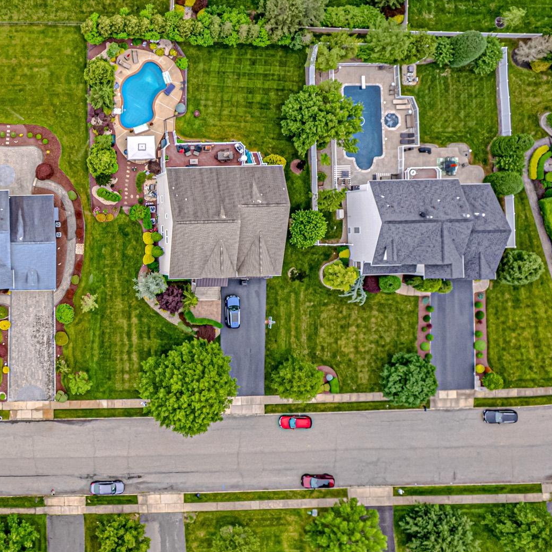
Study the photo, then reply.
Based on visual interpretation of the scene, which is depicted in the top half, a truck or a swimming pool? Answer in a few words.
swimming pool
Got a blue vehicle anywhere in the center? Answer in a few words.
Yes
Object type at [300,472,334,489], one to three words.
car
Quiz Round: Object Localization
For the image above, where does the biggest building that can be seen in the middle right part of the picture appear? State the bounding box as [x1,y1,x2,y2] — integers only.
[347,180,514,281]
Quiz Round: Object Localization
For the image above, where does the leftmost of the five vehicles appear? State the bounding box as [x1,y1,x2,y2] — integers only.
[89,479,125,496]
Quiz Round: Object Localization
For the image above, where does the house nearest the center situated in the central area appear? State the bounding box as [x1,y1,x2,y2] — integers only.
[158,165,291,300]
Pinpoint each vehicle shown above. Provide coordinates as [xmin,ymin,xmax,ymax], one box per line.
[480,408,519,425]
[89,479,125,496]
[300,472,334,489]
[223,294,242,330]
[277,413,312,431]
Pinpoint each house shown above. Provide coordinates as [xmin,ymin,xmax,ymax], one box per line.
[158,165,291,300]
[0,190,57,291]
[347,180,514,281]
